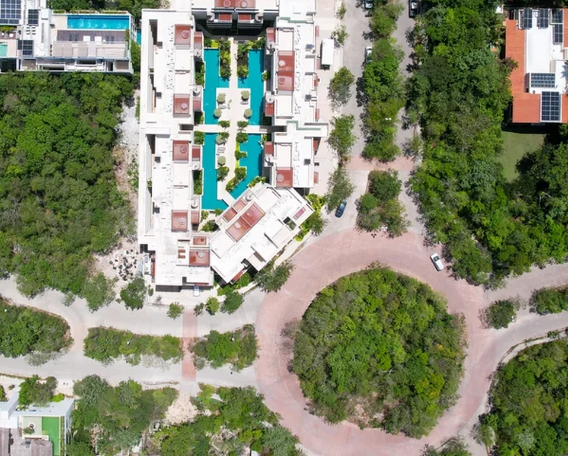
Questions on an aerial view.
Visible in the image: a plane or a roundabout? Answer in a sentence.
There is a roundabout in the scene.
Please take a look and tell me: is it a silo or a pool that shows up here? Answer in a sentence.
The image shows a pool.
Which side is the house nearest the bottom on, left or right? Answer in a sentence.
The house nearest the bottom appears in the left half of the scene.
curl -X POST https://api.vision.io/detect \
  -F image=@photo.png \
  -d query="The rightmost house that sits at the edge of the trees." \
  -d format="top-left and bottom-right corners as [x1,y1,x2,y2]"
[498,9,568,122]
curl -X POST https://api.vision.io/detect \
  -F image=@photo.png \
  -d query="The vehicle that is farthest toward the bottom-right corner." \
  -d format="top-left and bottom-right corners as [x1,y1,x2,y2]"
[429,251,444,271]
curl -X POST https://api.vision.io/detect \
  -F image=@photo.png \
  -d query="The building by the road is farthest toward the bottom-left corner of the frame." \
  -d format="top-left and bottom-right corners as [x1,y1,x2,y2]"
[0,385,73,456]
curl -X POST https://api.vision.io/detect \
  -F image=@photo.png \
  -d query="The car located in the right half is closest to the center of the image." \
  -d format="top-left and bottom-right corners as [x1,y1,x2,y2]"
[336,200,348,218]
